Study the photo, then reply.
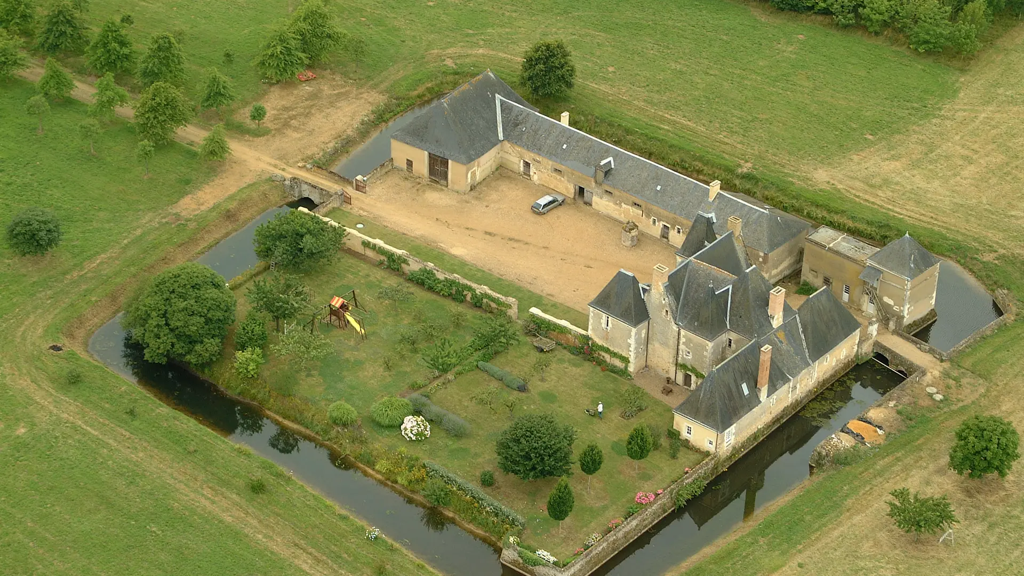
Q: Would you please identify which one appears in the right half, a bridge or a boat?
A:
bridge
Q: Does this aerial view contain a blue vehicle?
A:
No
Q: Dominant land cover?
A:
grass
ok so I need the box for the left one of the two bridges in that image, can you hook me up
[284,167,357,207]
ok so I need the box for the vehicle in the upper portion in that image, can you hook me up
[528,191,568,215]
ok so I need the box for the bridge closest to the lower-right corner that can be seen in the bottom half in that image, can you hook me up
[872,336,948,381]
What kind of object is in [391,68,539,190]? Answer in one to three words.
barn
